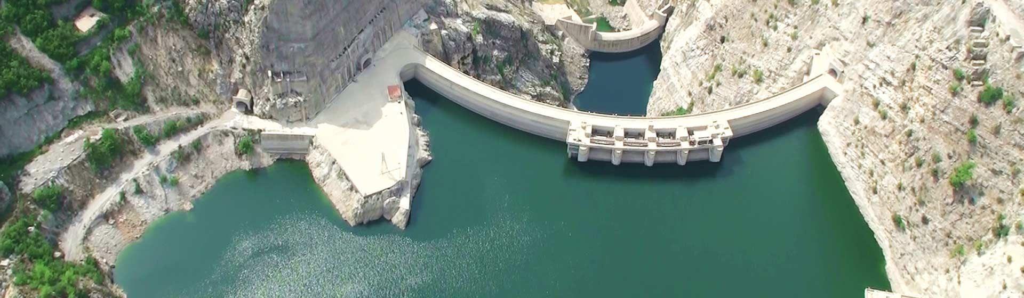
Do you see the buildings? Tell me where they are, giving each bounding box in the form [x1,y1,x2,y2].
[387,85,401,100]
[74,8,107,38]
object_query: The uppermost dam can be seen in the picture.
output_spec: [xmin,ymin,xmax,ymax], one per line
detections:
[563,0,673,56]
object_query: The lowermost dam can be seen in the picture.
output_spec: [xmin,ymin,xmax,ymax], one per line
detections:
[398,38,844,167]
